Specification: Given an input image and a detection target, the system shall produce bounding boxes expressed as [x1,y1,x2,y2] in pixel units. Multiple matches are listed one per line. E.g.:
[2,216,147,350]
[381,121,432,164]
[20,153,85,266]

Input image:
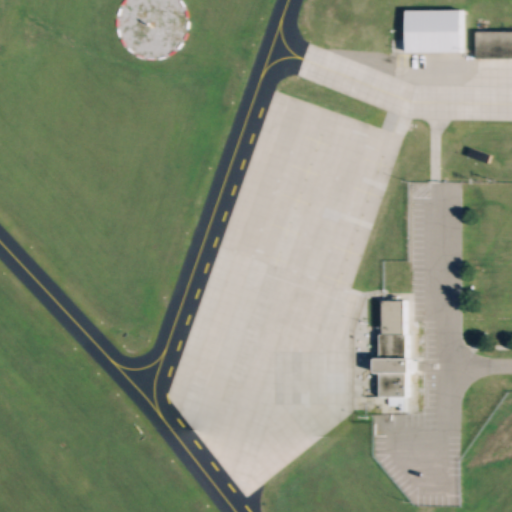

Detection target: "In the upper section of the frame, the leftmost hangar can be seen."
[404,10,466,53]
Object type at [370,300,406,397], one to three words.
building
